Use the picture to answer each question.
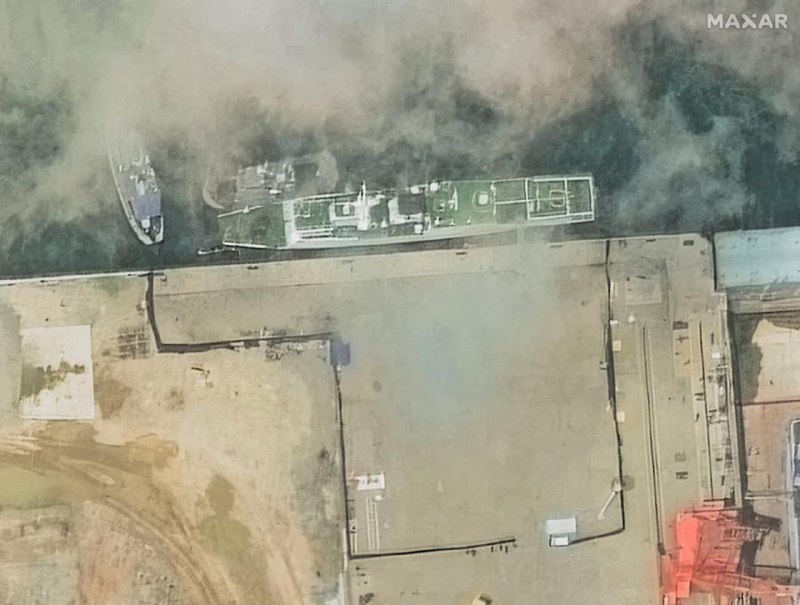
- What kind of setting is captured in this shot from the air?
port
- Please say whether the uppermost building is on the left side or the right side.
right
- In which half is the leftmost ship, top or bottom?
top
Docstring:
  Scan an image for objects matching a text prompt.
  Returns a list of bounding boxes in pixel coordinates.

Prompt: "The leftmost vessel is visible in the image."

[107,109,164,247]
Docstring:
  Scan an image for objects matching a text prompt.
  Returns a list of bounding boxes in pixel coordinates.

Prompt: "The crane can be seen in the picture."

[664,500,800,605]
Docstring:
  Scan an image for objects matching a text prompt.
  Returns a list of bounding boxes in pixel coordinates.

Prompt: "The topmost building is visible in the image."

[716,231,800,293]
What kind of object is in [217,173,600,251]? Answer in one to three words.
ship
